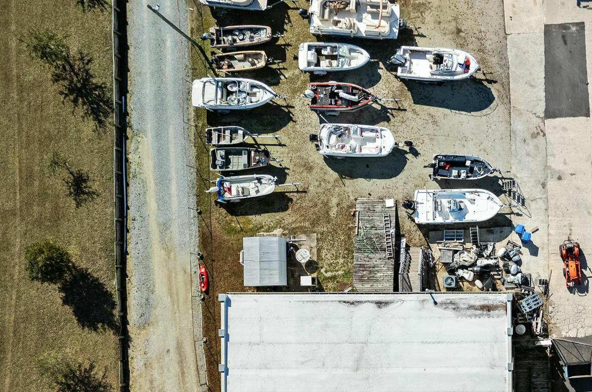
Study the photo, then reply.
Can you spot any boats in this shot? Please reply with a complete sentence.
Yes, the photo shows a boat.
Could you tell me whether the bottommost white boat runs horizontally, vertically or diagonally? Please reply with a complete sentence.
The bottommost white boat runs horizontally in the image.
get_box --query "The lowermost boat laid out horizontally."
[398,187,503,225]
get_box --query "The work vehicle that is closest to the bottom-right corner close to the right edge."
[559,237,582,281]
